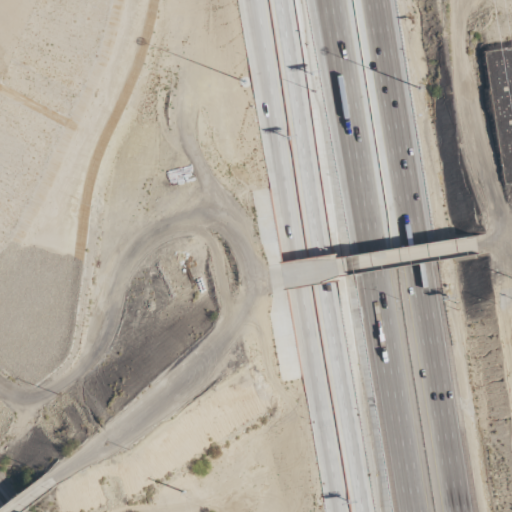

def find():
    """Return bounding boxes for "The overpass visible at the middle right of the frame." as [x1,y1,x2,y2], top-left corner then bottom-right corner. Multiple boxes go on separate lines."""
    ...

[270,235,490,290]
